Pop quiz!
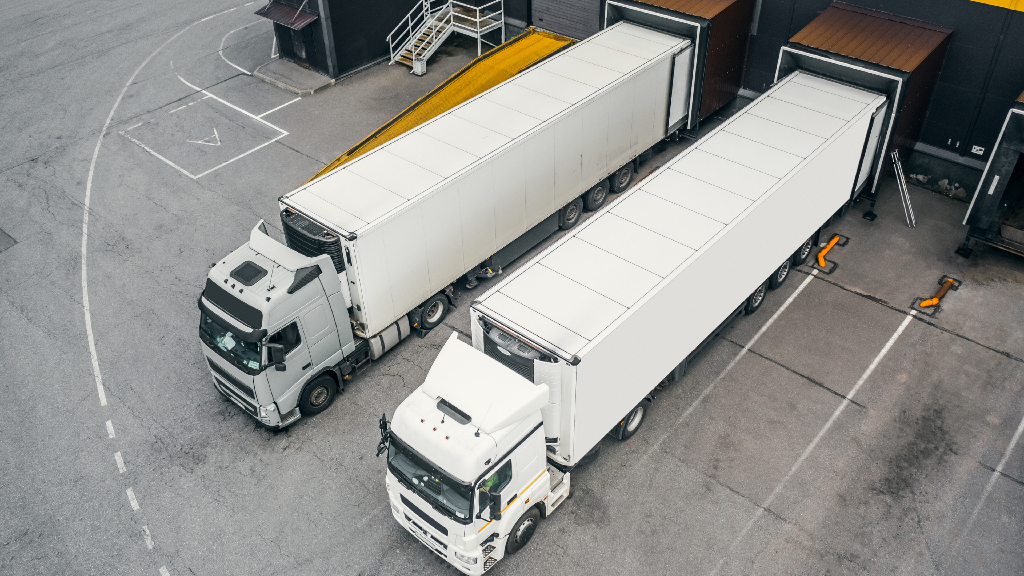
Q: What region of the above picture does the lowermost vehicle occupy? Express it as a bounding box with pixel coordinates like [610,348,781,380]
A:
[367,329,569,576]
